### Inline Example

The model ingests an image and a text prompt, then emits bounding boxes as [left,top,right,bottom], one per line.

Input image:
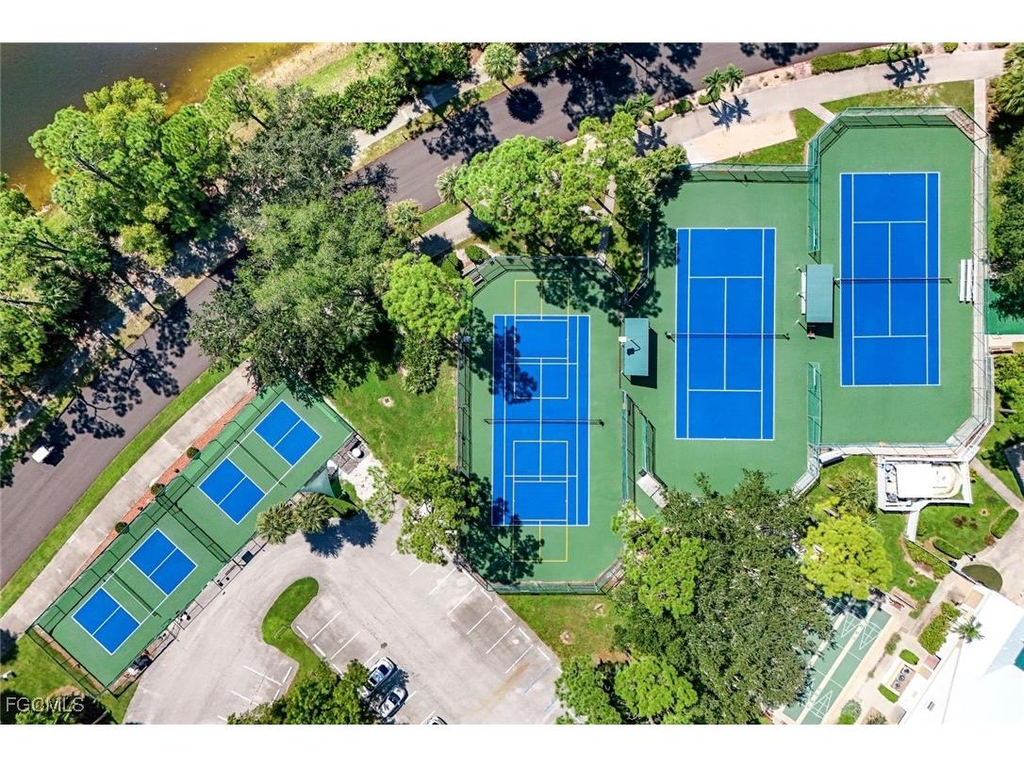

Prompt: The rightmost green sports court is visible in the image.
[984,279,1024,345]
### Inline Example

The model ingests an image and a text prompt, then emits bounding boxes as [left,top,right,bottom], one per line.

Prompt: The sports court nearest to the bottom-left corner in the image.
[38,497,233,688]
